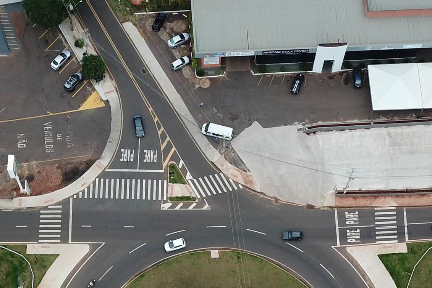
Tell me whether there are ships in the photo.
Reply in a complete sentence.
No, I can't see a single ship in this photo.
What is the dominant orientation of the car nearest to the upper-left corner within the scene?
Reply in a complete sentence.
In this picture, the car nearest to the upper-left corner lies at an angle.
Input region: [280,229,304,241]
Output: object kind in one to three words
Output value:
vehicle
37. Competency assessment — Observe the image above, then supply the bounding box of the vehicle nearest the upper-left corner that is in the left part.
[49,48,71,69]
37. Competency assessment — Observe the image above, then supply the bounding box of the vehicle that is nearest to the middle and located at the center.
[204,121,233,138]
